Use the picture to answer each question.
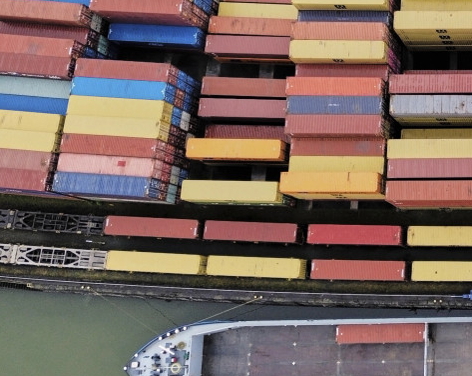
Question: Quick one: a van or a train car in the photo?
train car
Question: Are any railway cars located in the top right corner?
No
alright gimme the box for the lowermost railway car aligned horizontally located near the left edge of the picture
[14,245,108,271]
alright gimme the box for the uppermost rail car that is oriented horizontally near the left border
[12,210,107,235]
